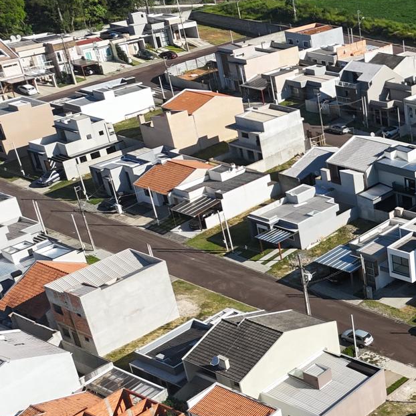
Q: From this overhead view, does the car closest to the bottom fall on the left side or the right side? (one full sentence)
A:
The car closest to the bottom sits on the right side.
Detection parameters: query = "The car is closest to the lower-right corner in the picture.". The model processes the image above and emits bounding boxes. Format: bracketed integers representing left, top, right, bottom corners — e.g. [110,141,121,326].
[343,324,374,345]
